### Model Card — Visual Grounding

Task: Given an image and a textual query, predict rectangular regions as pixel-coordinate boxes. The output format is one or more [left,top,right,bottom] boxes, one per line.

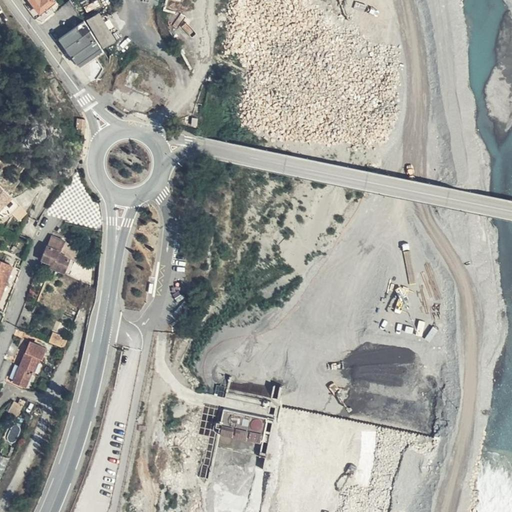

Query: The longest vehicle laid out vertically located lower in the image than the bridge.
[403,246,416,287]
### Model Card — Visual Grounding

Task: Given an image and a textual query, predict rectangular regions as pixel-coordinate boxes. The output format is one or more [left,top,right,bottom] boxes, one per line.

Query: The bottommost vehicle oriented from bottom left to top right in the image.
[336,461,358,486]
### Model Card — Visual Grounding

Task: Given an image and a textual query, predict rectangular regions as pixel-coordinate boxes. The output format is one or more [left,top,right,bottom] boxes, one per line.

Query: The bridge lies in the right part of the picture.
[188,137,512,221]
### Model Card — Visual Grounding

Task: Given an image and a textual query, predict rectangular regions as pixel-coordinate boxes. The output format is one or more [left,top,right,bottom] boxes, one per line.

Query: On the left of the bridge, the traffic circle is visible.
[88,122,174,222]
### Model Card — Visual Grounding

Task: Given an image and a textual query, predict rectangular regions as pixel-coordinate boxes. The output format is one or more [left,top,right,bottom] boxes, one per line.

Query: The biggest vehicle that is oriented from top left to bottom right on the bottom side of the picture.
[326,381,348,407]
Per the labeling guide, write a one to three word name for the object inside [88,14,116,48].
house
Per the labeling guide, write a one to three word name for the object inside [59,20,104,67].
building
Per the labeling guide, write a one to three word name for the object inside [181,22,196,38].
vehicle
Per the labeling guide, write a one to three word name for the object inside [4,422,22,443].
swimming pool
